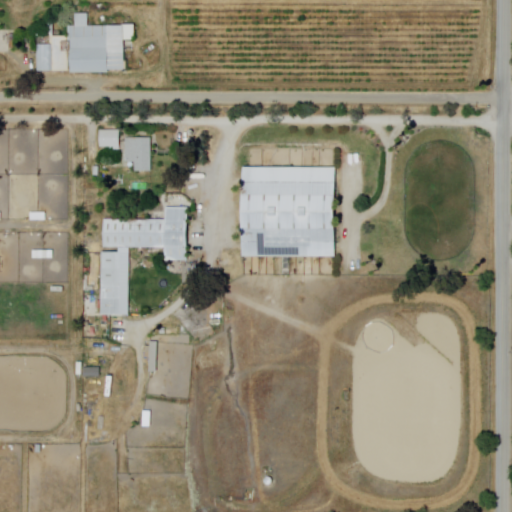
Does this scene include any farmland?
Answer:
Yes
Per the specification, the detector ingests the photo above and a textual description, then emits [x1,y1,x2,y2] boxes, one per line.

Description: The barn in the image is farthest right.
[240,166,336,256]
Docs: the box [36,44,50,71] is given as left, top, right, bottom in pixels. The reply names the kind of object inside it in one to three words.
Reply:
shed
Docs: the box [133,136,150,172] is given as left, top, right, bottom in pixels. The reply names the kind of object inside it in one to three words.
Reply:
house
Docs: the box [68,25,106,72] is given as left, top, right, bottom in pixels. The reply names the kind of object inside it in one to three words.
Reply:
shed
